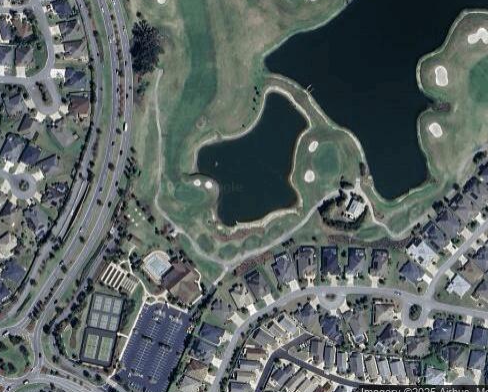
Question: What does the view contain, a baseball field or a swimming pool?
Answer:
swimming pool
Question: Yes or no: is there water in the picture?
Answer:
Yes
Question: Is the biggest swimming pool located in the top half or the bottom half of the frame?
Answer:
bottom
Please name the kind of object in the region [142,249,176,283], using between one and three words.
swimming pool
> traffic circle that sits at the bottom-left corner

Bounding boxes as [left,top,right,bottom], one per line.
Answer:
[0,327,44,387]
